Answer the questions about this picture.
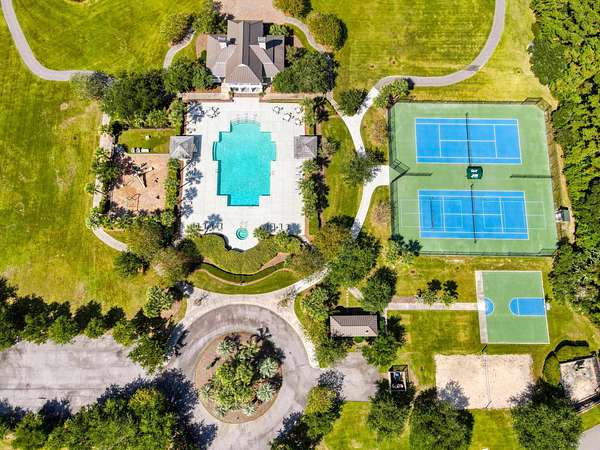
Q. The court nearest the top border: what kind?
tennis court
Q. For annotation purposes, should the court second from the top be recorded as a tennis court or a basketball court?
tennis court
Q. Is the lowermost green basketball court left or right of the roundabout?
right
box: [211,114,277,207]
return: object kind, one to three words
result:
swimming pool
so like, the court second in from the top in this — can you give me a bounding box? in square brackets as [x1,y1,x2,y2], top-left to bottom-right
[391,178,557,255]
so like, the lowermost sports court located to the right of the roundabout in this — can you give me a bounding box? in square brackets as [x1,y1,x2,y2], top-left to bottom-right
[436,353,533,410]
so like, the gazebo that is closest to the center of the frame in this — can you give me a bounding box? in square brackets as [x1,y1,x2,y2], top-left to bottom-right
[293,136,318,161]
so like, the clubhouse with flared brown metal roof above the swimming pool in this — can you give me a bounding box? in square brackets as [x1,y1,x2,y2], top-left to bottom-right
[206,19,284,98]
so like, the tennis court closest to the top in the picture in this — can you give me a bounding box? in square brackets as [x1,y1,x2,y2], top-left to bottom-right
[390,103,551,178]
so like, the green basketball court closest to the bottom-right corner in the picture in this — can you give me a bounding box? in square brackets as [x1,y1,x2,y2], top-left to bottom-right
[476,271,550,344]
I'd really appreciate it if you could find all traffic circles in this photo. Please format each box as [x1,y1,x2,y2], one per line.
[166,302,312,450]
